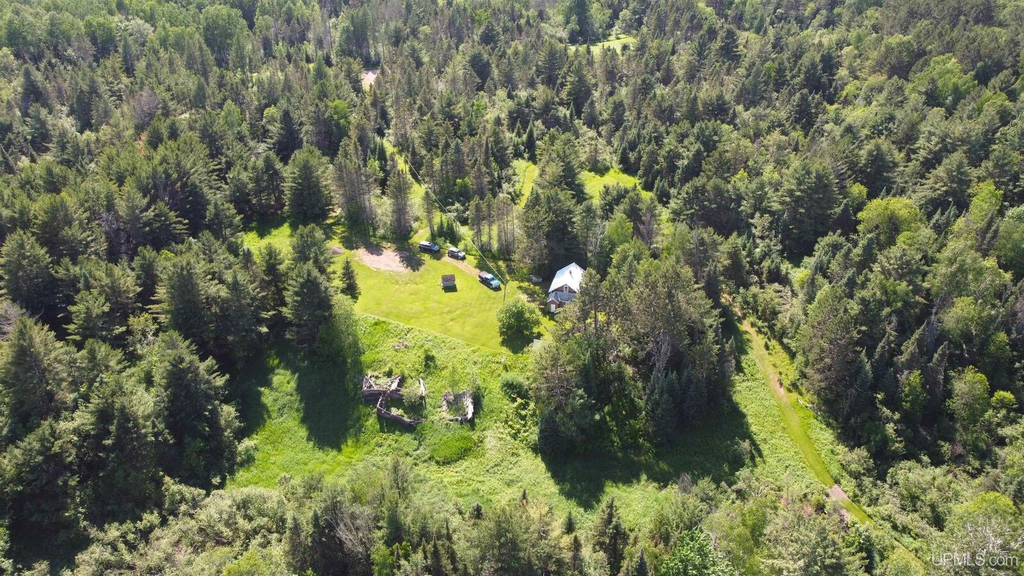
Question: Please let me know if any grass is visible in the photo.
Yes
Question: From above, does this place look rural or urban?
rural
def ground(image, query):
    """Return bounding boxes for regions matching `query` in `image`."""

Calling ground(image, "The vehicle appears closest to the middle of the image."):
[476,272,503,288]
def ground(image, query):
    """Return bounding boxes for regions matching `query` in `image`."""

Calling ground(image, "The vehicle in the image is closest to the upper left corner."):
[418,240,441,253]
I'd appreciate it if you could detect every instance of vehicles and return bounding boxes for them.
[476,272,503,288]
[418,240,441,253]
[446,246,467,260]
